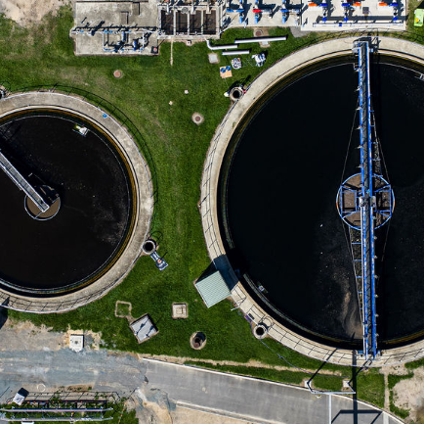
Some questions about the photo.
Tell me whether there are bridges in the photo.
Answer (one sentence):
Yes, the photo shows a bridge.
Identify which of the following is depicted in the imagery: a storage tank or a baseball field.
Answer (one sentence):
Looking from above, you can make out a storage tank.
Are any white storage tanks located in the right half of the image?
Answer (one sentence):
No, no white storage tank appears in the right half of the image.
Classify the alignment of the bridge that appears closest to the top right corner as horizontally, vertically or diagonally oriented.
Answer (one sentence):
The bridge that appears closest to the top right corner has been laid out vertically relative to the frame.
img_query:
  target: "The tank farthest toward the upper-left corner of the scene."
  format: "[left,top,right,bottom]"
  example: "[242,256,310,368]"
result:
[0,91,153,313]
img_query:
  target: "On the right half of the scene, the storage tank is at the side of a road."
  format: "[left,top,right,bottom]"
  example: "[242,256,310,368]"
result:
[200,31,424,369]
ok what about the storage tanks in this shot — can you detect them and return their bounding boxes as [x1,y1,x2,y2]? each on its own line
[200,31,424,369]
[0,91,153,313]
